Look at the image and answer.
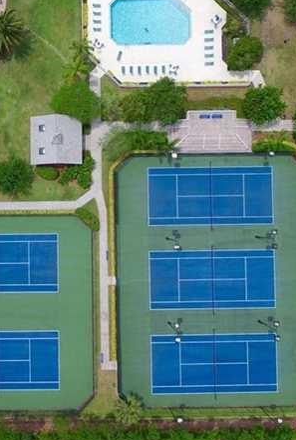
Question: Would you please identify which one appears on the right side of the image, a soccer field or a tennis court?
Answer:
tennis court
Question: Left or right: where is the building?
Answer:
left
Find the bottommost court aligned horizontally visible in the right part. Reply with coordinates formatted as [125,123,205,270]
[119,323,296,407]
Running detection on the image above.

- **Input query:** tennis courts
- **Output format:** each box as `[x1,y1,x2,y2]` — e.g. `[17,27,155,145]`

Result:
[118,238,296,323]
[119,323,296,407]
[116,156,296,238]
[0,313,93,410]
[0,213,92,313]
